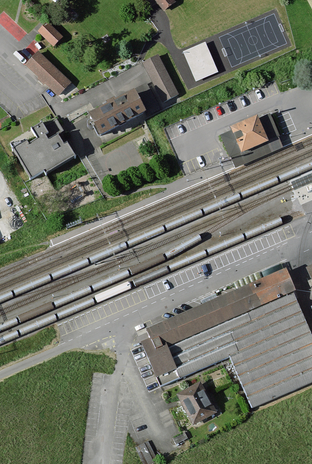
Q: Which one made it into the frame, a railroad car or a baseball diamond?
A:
railroad car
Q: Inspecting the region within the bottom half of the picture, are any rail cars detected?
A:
Yes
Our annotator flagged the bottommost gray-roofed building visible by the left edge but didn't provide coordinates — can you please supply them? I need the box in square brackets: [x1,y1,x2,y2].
[10,114,76,180]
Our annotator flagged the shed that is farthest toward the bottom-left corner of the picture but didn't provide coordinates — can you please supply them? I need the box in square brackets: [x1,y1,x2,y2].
[136,441,158,464]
